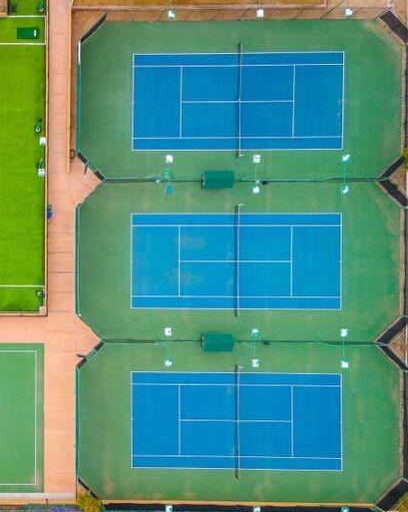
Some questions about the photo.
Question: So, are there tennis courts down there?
Yes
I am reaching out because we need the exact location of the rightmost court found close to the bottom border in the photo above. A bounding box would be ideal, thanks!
[80,344,402,502]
